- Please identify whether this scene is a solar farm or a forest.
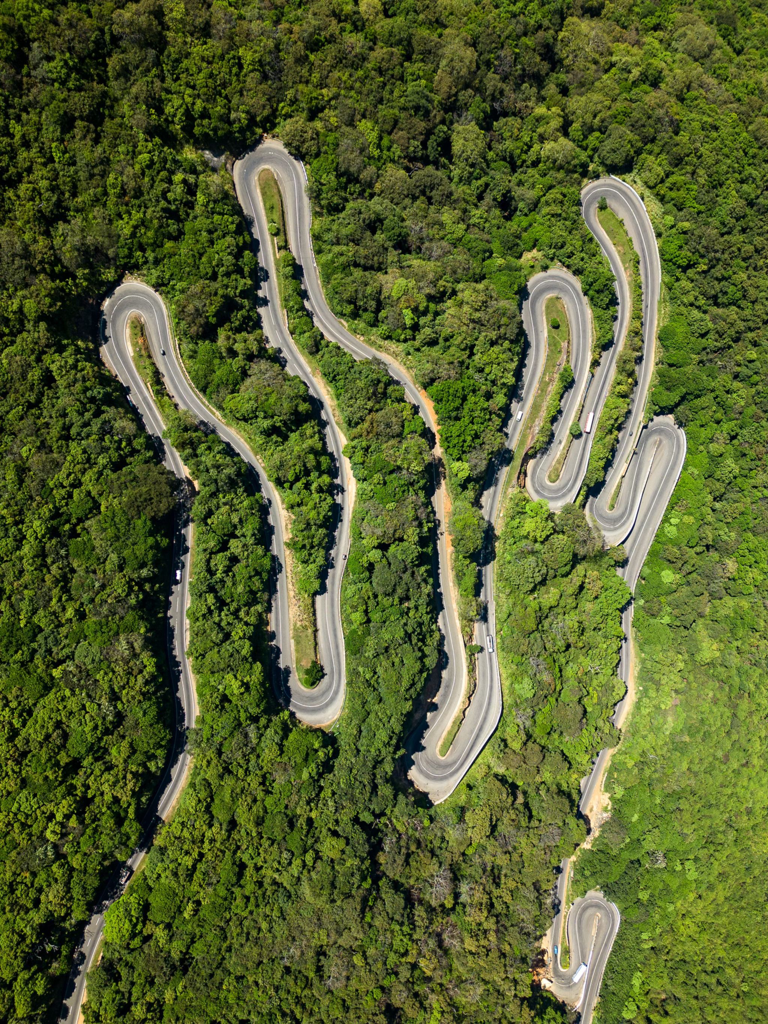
forest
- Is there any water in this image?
No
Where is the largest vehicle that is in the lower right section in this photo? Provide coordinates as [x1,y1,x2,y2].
[573,961,586,982]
